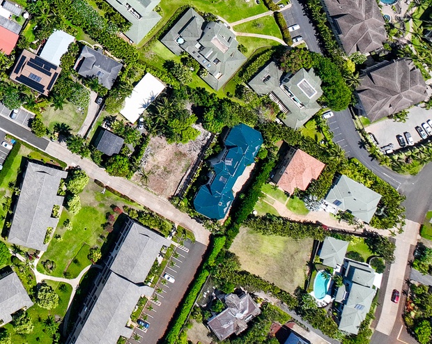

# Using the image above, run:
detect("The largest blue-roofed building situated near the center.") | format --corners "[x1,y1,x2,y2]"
[190,123,264,224]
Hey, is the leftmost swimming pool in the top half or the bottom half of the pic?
bottom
